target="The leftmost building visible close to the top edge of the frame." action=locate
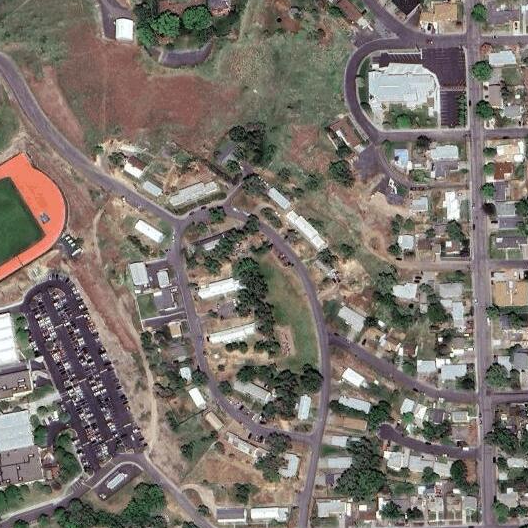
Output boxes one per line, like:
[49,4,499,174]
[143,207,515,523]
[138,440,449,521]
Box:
[115,19,136,41]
